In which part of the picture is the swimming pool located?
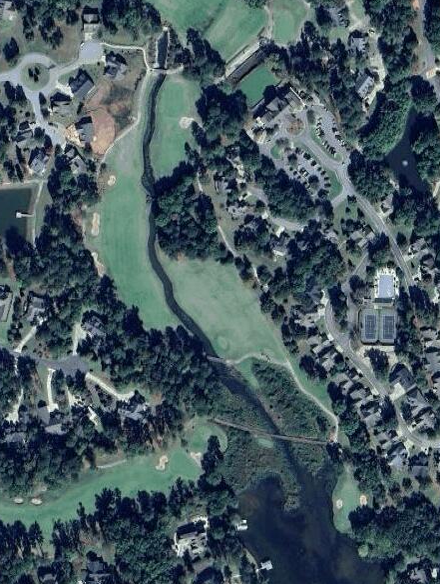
right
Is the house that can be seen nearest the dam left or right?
left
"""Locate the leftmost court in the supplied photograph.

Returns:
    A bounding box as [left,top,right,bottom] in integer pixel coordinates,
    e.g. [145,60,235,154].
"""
[362,310,380,344]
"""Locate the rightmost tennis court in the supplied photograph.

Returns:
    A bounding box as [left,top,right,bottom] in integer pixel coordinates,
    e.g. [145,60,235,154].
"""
[380,310,397,344]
